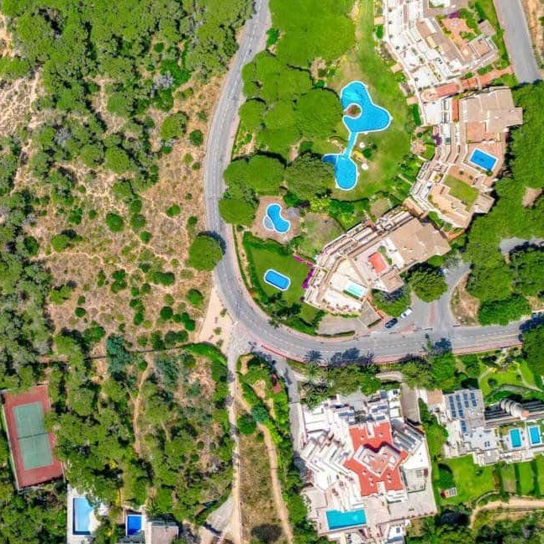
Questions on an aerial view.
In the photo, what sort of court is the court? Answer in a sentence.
It looks like the court is a tennis court.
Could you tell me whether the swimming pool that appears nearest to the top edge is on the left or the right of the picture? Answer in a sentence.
The swimming pool that appears nearest to the top edge sits on the right side.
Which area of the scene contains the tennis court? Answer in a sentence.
The tennis court is located in the bottom left region of the scene.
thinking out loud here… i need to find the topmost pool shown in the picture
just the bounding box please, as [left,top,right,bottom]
[338,79,392,134]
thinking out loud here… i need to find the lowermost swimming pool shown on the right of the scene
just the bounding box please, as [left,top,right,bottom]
[323,507,368,529]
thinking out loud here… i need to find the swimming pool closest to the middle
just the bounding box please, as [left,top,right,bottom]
[263,267,291,291]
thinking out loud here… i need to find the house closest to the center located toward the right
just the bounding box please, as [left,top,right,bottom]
[300,206,455,329]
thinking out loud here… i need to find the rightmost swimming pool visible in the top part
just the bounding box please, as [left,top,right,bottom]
[466,146,502,172]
